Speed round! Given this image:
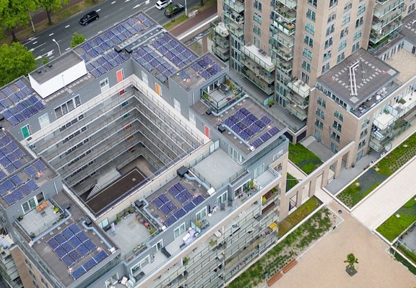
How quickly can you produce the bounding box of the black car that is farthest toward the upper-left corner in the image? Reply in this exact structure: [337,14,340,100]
[77,8,100,25]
